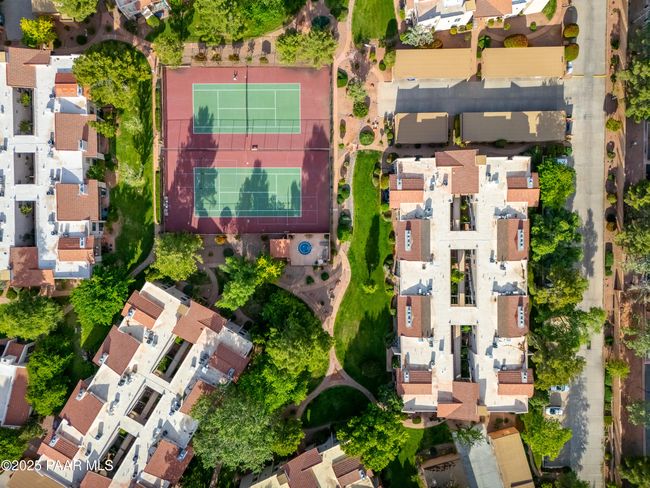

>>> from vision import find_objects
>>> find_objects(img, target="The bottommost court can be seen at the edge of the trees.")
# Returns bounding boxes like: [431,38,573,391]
[164,150,331,234]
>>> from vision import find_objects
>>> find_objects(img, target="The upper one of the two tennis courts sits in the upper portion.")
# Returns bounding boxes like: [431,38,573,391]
[164,65,331,150]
